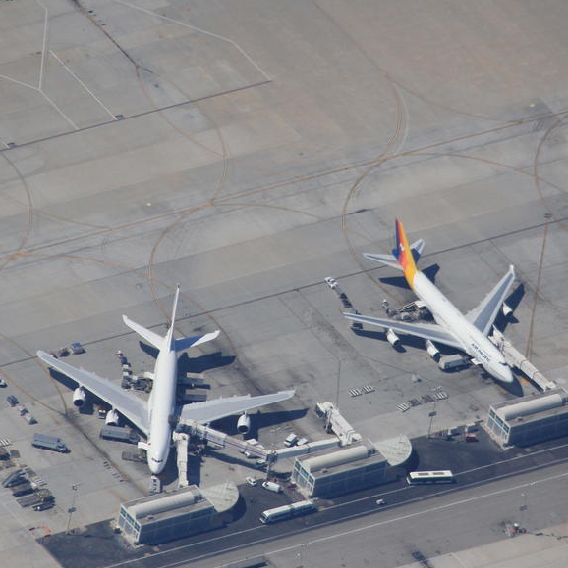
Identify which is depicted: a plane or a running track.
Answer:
plane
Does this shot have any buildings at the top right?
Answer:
No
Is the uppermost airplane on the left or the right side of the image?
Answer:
right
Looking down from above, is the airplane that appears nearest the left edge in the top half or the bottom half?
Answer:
bottom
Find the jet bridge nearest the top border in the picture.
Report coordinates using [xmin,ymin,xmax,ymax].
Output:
[482,331,560,394]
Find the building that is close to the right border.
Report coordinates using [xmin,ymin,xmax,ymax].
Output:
[479,387,568,448]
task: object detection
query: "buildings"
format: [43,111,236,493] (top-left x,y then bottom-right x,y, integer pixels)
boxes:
[284,432,406,500]
[112,478,235,546]
[479,387,568,448]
